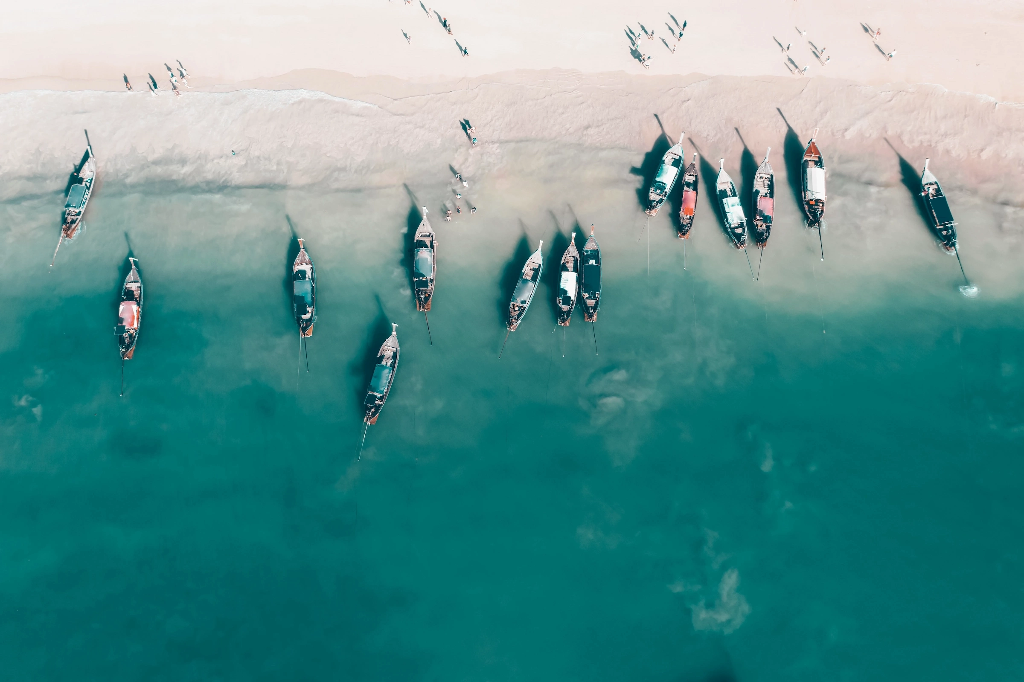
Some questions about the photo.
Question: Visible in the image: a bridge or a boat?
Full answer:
There is a boat in the scene.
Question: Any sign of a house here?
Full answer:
No, this view has no house in it.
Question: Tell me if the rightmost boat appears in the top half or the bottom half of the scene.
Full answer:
Seen from above, the rightmost boat lies in the top half of the view.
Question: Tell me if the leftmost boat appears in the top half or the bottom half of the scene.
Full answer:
It is in the top half that the leftmost boat appears.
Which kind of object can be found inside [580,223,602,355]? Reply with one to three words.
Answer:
boat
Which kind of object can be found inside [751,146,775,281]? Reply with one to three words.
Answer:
boat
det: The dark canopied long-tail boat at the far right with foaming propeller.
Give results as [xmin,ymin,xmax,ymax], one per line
[919,157,968,285]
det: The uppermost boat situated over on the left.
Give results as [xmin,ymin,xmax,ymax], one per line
[50,146,99,267]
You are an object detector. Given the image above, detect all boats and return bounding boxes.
[714,158,755,280]
[50,146,99,267]
[637,131,685,242]
[557,232,580,357]
[919,157,968,285]
[113,257,145,397]
[357,322,401,461]
[800,128,826,260]
[413,205,437,346]
[678,153,699,251]
[751,146,775,281]
[580,223,602,355]
[293,238,318,372]
[498,240,543,359]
